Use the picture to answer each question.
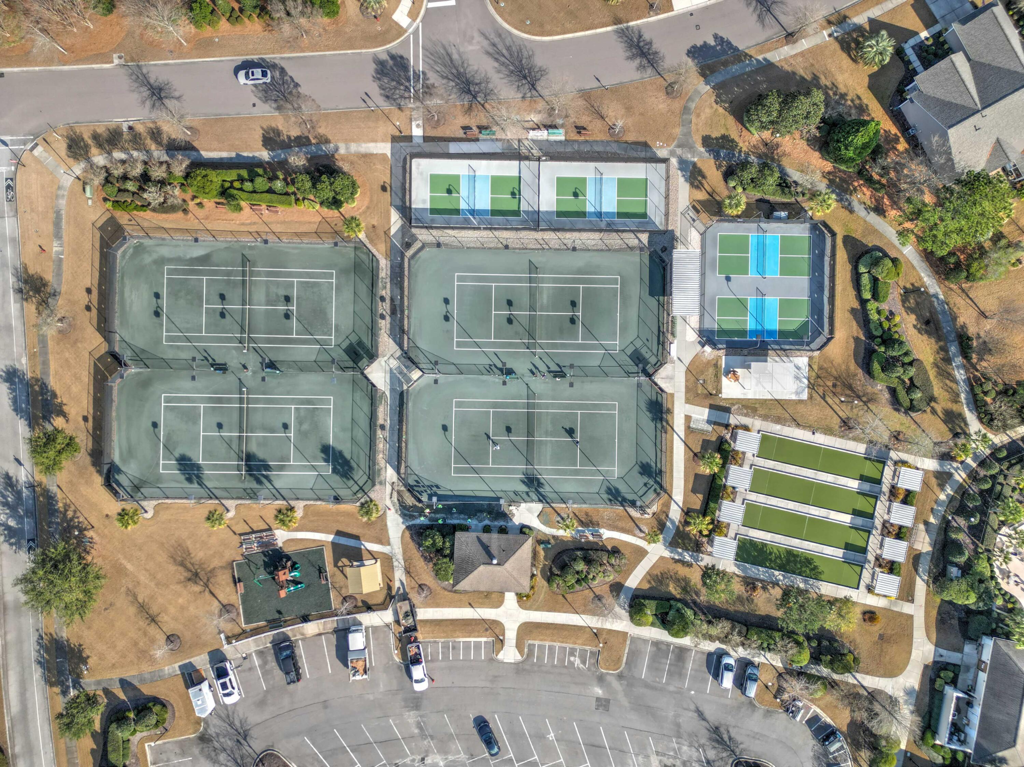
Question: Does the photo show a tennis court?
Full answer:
Yes, the photo shows a tennis court.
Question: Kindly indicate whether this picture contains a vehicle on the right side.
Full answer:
Yes, I can see a vehicle on the right side.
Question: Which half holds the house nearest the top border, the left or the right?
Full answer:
You can find the house nearest the top border on the right side of the picture.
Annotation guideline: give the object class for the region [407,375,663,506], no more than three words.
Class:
tennis court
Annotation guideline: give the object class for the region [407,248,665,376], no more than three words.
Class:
tennis court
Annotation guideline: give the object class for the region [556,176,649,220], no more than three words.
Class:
sports court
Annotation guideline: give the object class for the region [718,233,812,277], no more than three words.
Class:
sports court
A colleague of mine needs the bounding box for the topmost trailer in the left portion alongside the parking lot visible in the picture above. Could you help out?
[393,586,421,642]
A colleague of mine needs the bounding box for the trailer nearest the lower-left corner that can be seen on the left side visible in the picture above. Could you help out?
[184,671,211,722]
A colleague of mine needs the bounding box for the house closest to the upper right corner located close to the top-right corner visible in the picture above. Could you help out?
[897,0,1024,187]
